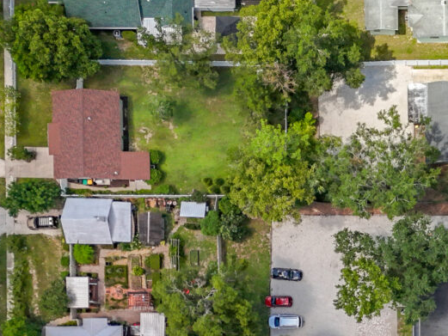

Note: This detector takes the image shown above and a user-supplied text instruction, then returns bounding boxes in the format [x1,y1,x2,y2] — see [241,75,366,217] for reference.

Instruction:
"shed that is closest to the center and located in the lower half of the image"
[179,201,212,219]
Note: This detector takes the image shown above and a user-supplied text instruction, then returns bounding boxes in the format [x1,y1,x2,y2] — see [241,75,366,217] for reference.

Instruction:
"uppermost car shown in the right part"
[272,267,303,282]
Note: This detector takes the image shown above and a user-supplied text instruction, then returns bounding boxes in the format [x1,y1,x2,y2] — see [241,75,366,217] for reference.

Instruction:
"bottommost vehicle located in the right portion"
[269,314,302,329]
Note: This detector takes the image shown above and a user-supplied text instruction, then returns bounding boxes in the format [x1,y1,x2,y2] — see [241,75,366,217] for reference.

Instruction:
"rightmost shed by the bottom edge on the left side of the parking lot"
[140,313,171,336]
